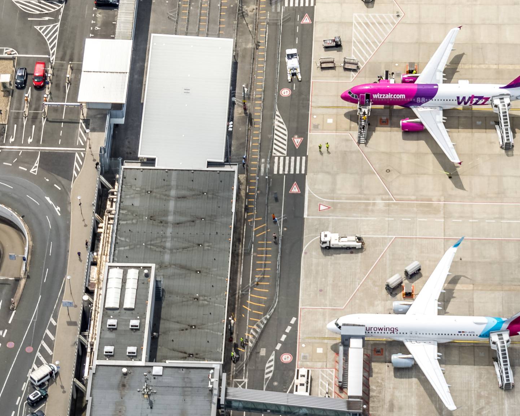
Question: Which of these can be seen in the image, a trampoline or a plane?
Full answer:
I can see a plane in this picture.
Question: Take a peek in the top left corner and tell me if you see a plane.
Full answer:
No, there is no plane in the top left corner.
